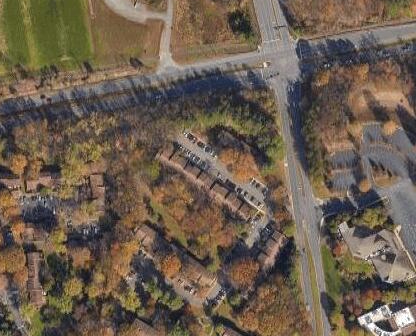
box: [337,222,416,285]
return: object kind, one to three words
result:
building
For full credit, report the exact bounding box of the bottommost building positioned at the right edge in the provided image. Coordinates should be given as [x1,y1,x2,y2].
[358,304,416,336]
